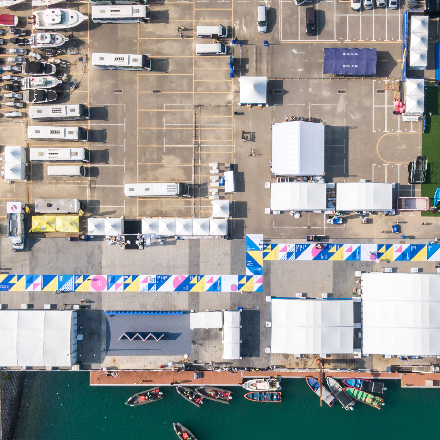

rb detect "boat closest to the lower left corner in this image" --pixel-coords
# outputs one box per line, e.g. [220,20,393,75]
[125,386,164,406]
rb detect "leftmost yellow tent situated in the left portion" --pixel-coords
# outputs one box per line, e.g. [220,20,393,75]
[32,215,58,233]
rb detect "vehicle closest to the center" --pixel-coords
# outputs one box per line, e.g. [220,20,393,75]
[127,181,188,198]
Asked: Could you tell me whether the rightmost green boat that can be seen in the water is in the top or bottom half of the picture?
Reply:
bottom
